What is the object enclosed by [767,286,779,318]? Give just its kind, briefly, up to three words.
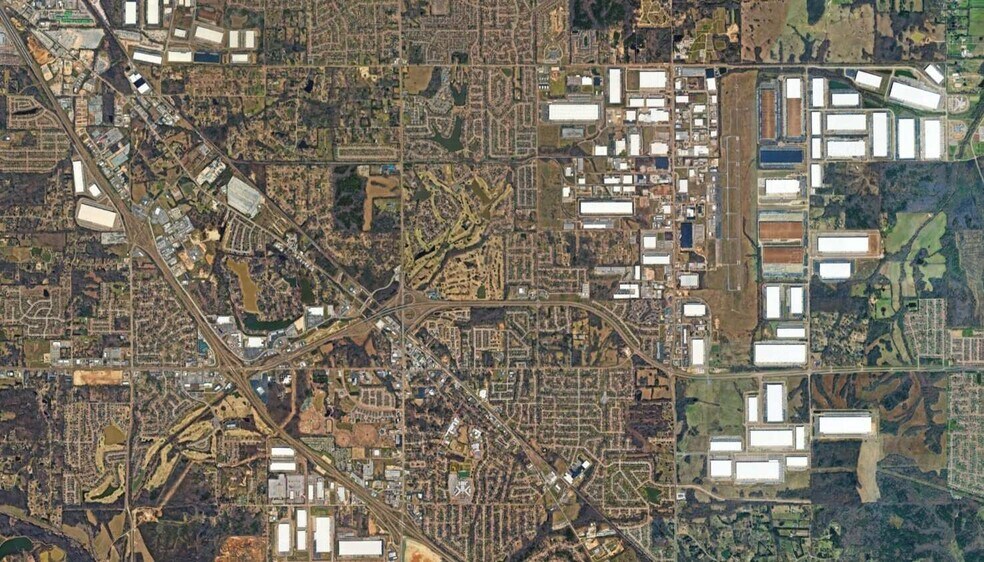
building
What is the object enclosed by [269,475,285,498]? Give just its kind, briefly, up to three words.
building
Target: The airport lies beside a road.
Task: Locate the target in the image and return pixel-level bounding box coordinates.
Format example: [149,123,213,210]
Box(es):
[701,69,758,363]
